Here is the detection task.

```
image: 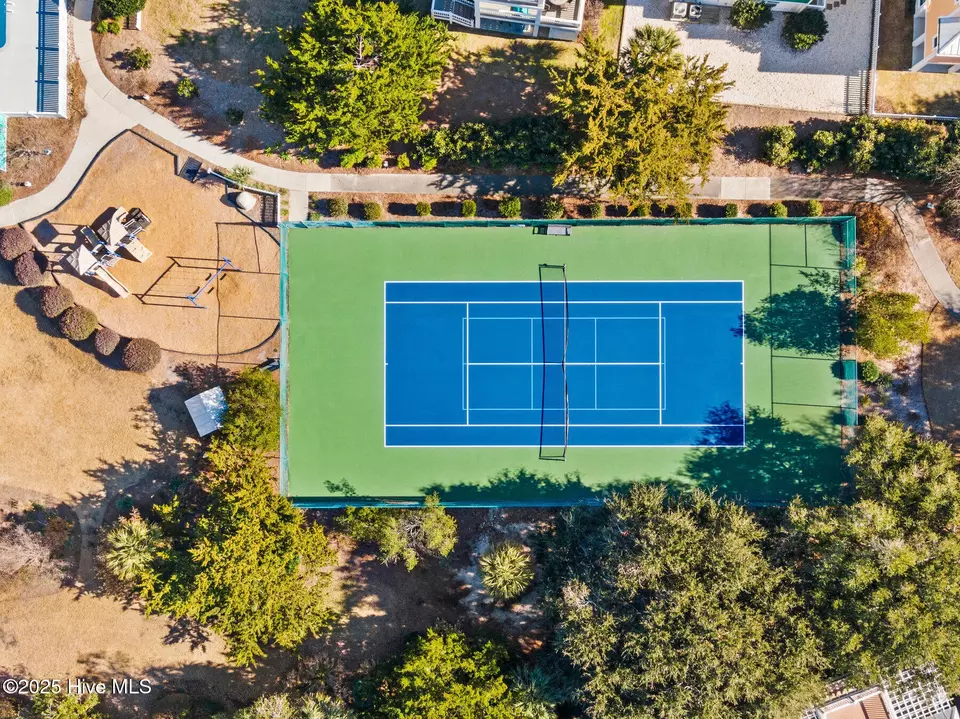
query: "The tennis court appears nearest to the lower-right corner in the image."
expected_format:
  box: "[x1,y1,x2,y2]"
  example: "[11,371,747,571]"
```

[289,224,842,501]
